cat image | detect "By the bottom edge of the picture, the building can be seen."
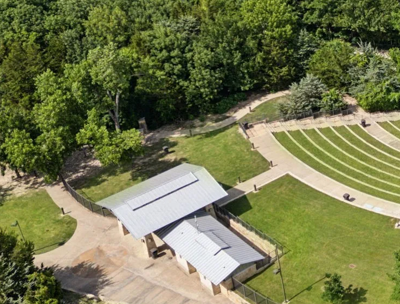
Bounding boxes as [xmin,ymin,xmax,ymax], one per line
[159,212,266,303]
